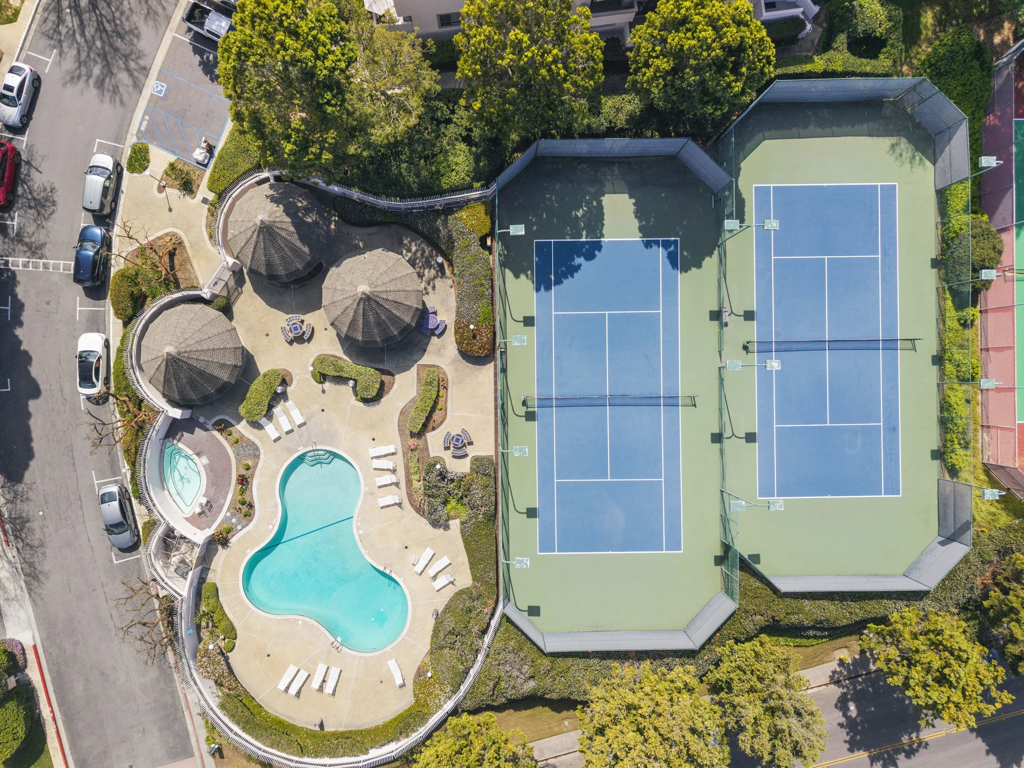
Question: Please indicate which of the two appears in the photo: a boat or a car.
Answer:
car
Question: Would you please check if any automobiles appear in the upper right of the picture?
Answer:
No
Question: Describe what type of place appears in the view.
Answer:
sports ground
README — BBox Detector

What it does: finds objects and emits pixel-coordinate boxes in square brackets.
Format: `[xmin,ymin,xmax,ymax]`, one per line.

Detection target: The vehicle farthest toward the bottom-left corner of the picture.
[98,481,138,549]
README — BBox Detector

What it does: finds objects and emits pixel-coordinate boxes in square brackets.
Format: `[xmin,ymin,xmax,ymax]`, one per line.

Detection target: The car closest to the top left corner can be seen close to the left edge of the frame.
[0,58,36,126]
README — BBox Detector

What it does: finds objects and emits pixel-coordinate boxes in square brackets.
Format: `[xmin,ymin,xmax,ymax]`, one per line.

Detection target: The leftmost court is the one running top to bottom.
[498,155,729,633]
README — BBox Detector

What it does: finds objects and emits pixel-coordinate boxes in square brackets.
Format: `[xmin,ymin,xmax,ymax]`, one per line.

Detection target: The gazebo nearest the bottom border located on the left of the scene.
[142,301,252,405]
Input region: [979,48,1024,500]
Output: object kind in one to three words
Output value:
tennis court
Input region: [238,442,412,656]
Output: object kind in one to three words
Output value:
swimming pool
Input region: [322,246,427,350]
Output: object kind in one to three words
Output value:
gazebo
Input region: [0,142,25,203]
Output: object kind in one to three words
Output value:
car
